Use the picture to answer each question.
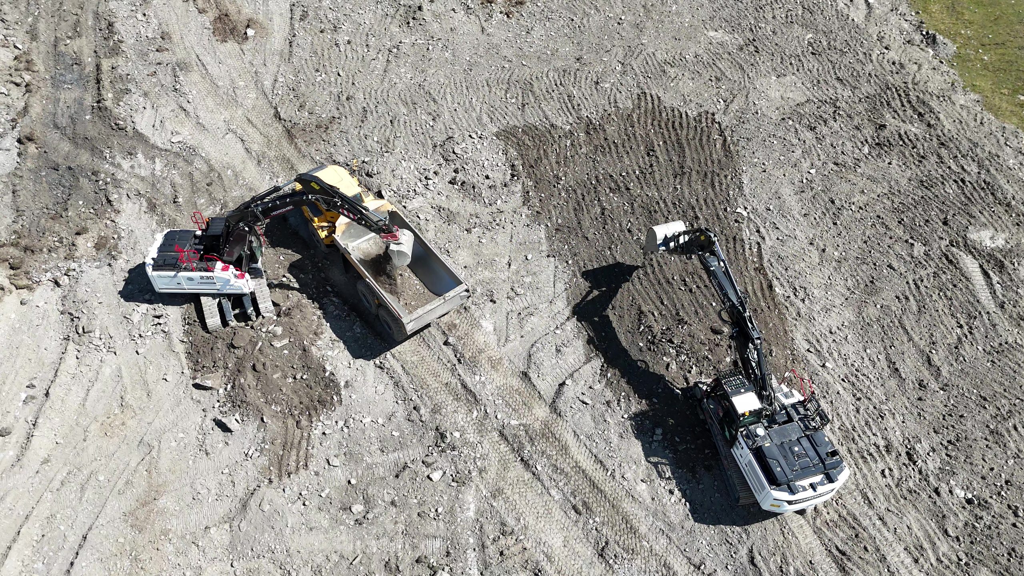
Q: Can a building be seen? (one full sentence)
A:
No, there is no building in the image.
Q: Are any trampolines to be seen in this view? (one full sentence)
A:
No, there appears to be no trampoline in this shot.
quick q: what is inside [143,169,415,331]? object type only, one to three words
work vehicle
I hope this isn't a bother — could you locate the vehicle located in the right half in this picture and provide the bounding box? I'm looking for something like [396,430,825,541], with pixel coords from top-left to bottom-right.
[644,221,855,513]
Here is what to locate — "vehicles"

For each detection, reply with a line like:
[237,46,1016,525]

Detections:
[644,221,855,513]
[143,169,415,331]
[290,161,474,351]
